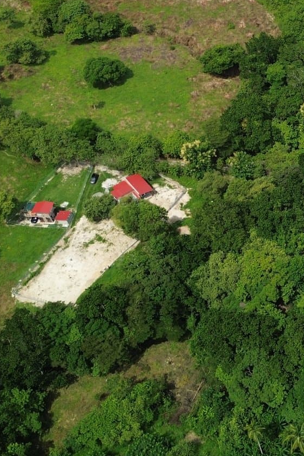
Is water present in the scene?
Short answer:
No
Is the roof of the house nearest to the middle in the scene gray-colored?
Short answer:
No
